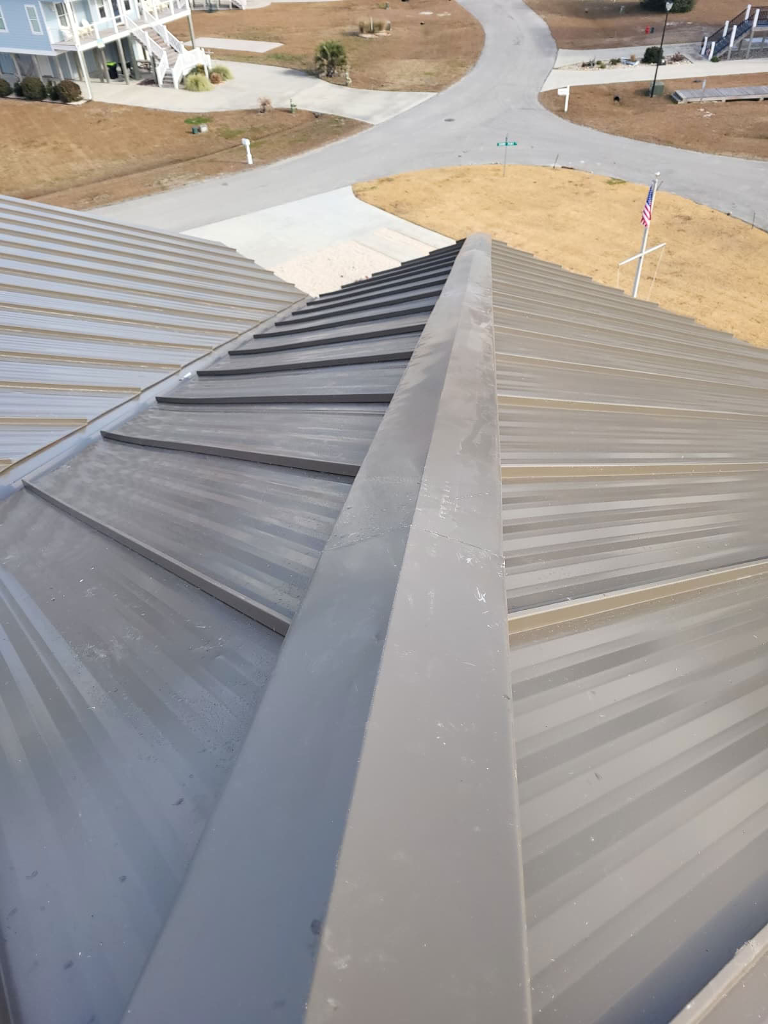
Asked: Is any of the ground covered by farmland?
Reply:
No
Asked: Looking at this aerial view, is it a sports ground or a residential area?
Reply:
residential area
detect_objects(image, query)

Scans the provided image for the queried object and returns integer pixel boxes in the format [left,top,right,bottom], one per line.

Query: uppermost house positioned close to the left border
[0,0,215,101]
